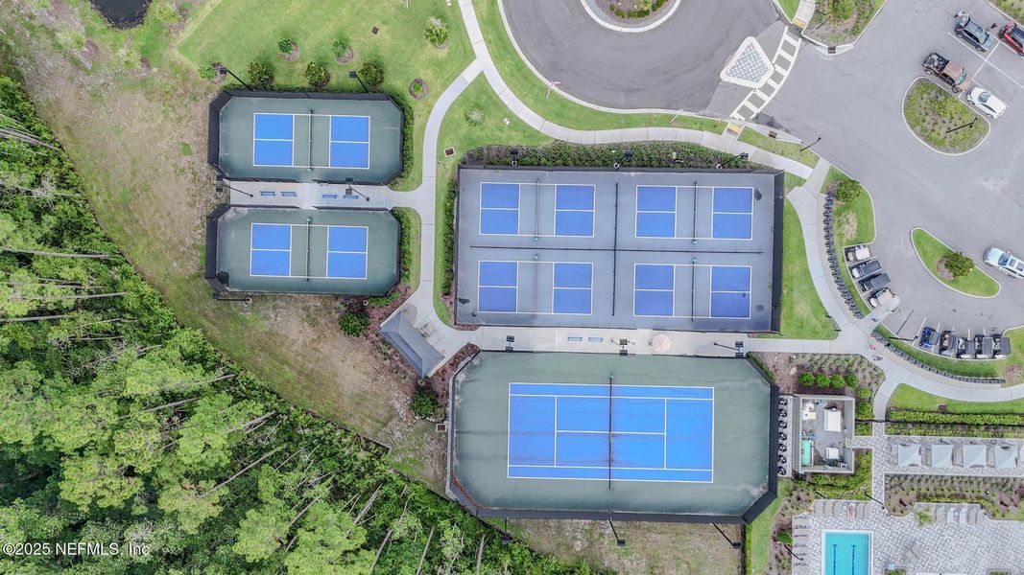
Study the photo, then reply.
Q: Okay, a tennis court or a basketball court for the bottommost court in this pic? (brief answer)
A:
tennis court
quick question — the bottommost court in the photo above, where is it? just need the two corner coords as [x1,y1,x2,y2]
[452,351,770,515]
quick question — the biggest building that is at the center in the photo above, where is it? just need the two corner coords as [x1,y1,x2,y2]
[379,311,445,379]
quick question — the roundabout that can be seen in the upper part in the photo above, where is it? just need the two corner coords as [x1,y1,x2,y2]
[582,0,680,32]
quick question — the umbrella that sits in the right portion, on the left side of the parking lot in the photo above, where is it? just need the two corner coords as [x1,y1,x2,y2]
[652,333,671,353]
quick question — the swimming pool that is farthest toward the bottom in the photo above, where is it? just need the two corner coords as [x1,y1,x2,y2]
[821,530,874,575]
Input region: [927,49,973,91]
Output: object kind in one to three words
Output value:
truck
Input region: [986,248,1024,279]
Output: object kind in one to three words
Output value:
car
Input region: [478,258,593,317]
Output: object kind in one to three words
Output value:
sports court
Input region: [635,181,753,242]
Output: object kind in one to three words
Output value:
sports court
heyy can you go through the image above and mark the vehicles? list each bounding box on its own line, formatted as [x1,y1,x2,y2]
[868,287,898,306]
[845,247,873,261]
[986,248,1024,279]
[939,332,961,354]
[957,8,997,48]
[852,259,883,276]
[921,327,946,349]
[958,337,979,358]
[927,49,973,91]
[994,335,1014,356]
[862,272,893,290]
[974,336,997,357]
[969,84,1009,117]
